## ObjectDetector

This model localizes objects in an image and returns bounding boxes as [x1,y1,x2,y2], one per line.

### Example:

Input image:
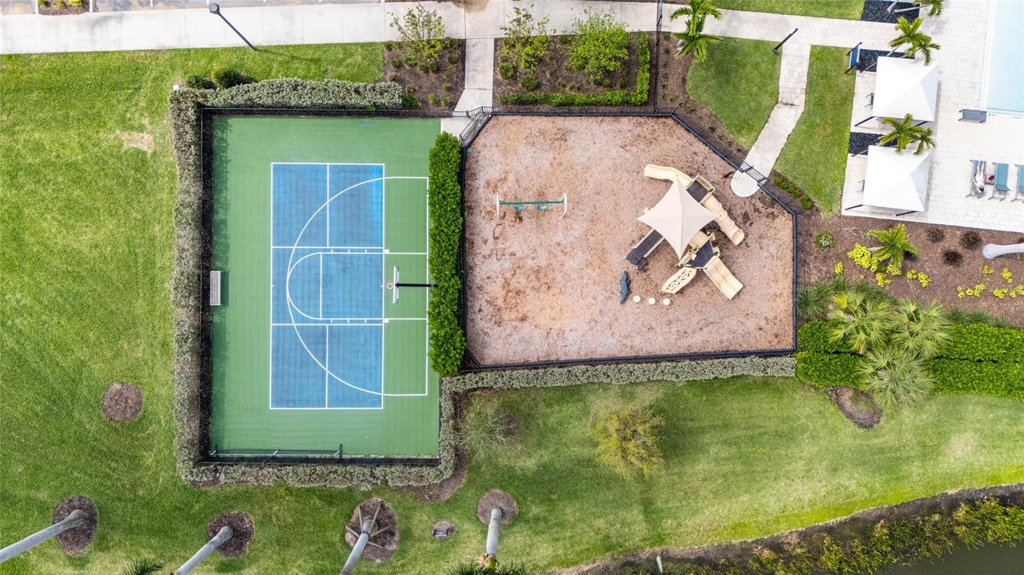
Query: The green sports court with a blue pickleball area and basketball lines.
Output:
[212,117,440,456]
